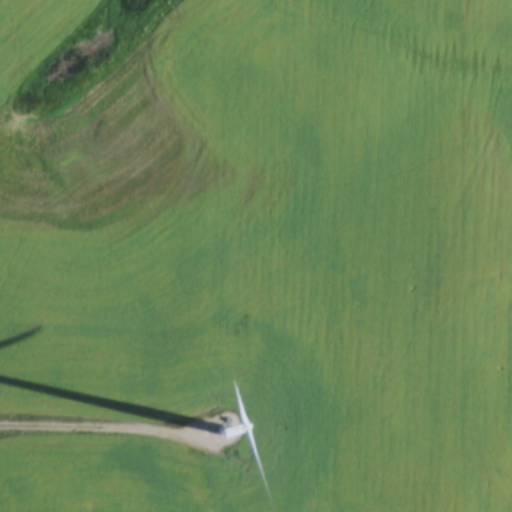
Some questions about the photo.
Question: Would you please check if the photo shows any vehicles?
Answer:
No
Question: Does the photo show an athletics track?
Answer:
No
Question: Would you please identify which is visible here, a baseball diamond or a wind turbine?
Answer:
wind turbine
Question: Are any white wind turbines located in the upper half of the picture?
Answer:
No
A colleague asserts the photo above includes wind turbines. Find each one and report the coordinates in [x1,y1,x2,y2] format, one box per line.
[224,376,268,501]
